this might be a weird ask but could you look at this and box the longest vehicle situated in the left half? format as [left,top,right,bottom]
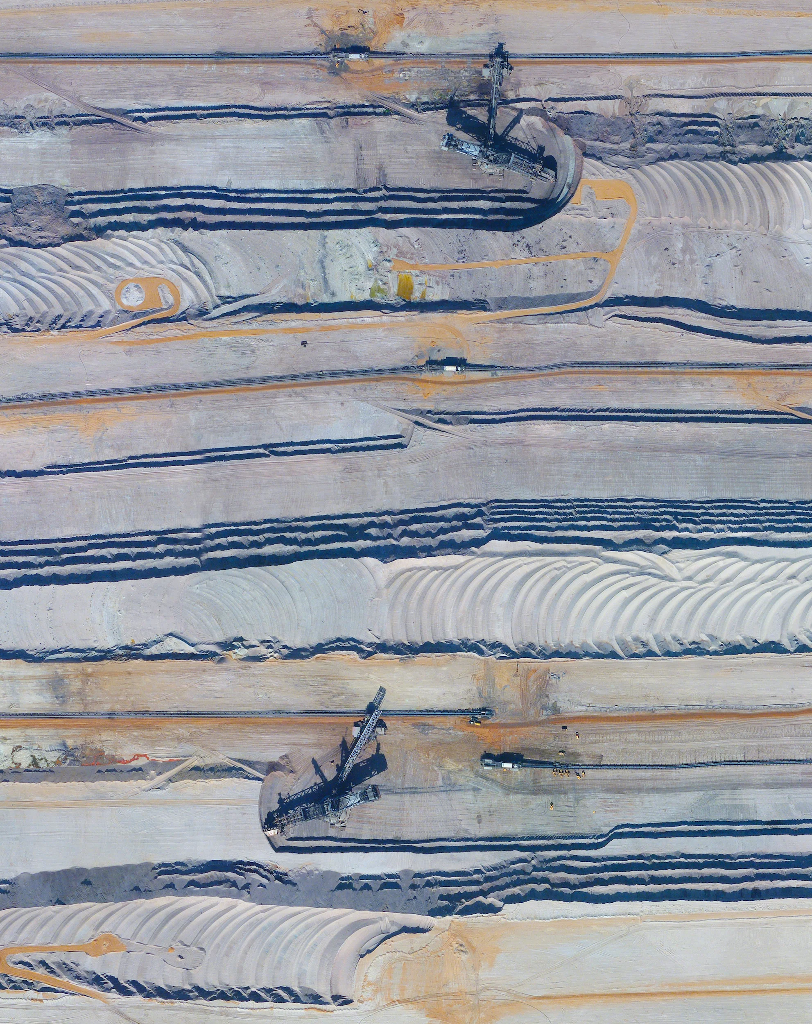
[263,711,383,841]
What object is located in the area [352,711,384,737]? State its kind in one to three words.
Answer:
vehicle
